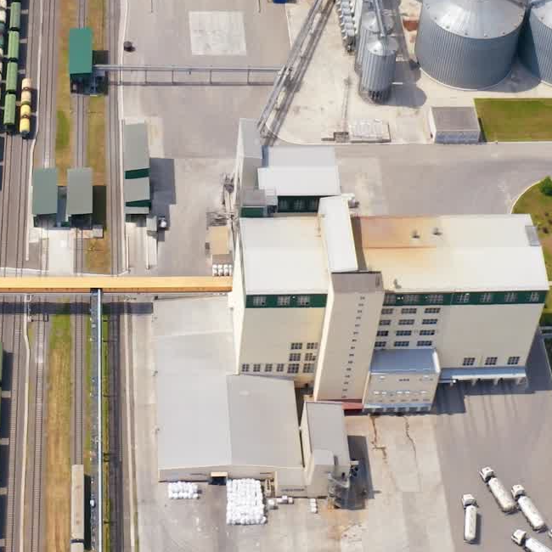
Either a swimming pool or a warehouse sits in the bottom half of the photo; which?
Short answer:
warehouse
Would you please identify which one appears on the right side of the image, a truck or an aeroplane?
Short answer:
truck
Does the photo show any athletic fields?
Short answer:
No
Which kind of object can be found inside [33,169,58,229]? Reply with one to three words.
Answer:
shed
